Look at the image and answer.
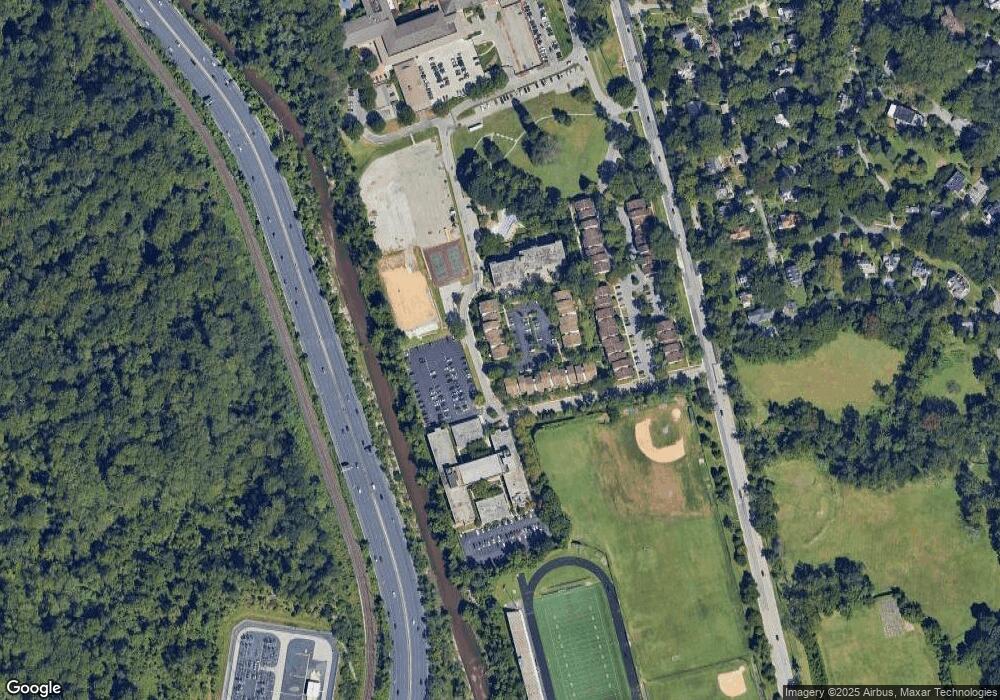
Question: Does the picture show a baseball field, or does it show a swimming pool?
baseball field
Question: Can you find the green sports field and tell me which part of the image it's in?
bottom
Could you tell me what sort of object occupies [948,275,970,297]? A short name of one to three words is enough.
house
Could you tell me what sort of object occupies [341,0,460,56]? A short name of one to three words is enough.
building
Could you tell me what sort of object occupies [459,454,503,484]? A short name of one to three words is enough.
building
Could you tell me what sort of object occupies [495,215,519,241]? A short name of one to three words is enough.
house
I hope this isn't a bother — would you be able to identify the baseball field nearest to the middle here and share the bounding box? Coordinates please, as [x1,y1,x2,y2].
[635,405,686,463]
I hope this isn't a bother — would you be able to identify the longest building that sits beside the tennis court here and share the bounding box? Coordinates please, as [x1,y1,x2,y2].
[490,240,566,289]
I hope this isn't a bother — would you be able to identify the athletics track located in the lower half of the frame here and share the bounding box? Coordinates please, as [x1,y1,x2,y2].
[518,556,636,700]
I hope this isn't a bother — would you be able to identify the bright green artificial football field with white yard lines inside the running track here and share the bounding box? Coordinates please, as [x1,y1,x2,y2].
[534,581,628,700]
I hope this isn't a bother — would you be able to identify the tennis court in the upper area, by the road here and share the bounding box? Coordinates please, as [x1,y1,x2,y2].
[424,239,470,286]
